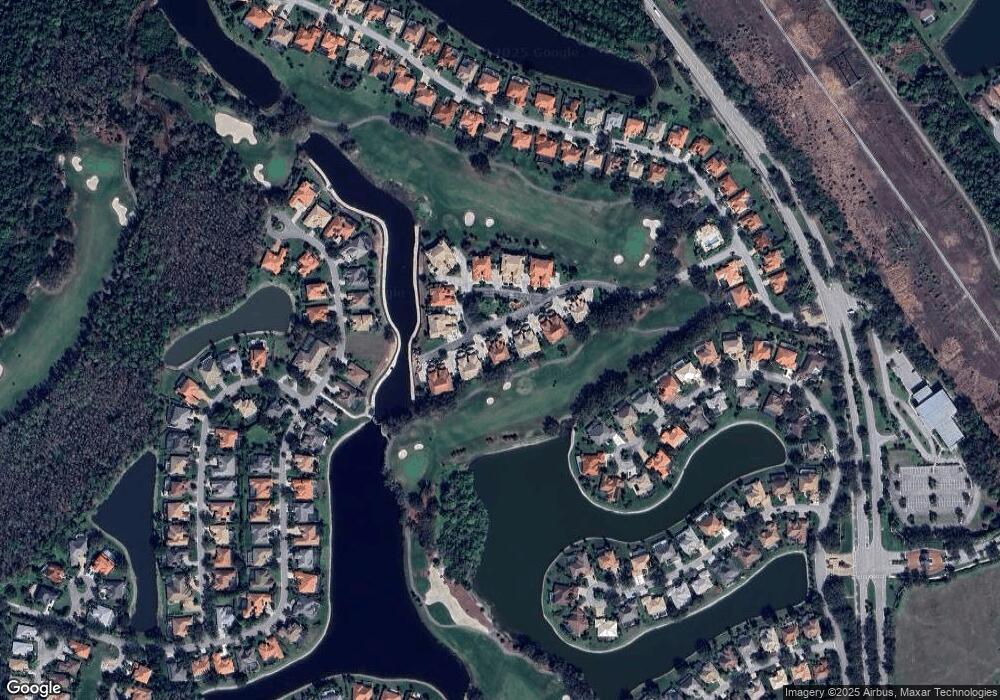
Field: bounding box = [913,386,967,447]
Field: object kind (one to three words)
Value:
building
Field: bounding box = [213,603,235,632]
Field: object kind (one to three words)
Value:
house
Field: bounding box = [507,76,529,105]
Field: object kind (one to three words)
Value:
house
